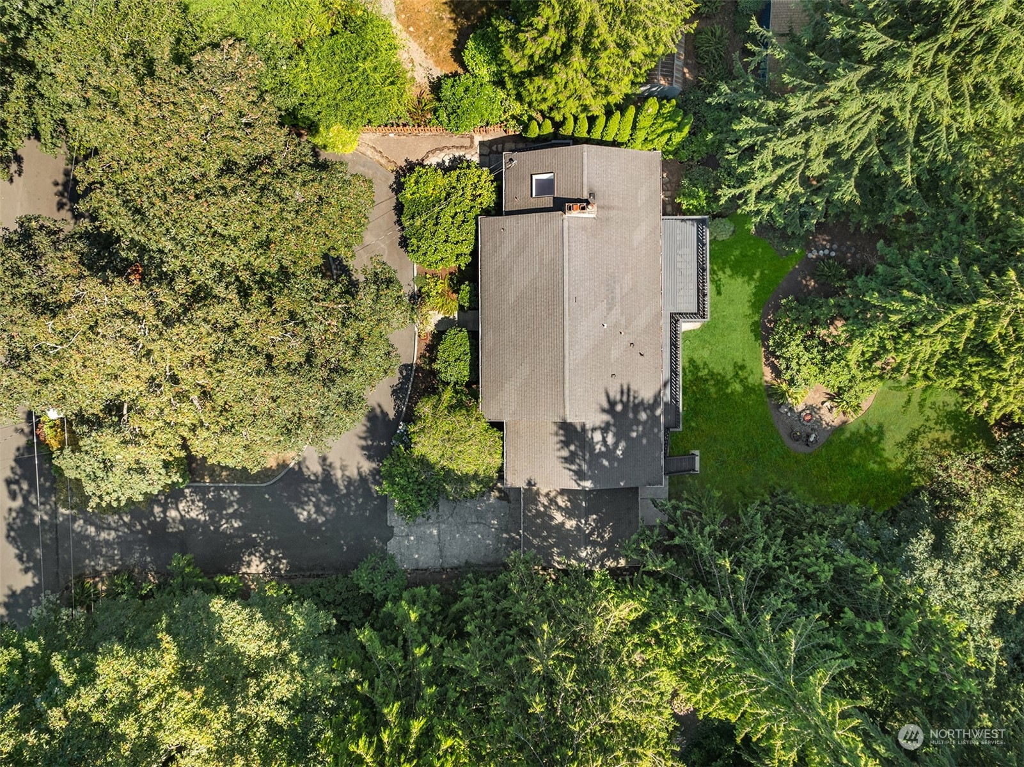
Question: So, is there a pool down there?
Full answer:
No, I can see no pool in this picture.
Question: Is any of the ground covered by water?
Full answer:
No, there is no water in the image.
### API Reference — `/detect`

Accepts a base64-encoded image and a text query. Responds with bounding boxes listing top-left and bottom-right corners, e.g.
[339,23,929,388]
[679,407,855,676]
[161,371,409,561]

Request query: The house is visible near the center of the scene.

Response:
[477,141,665,574]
